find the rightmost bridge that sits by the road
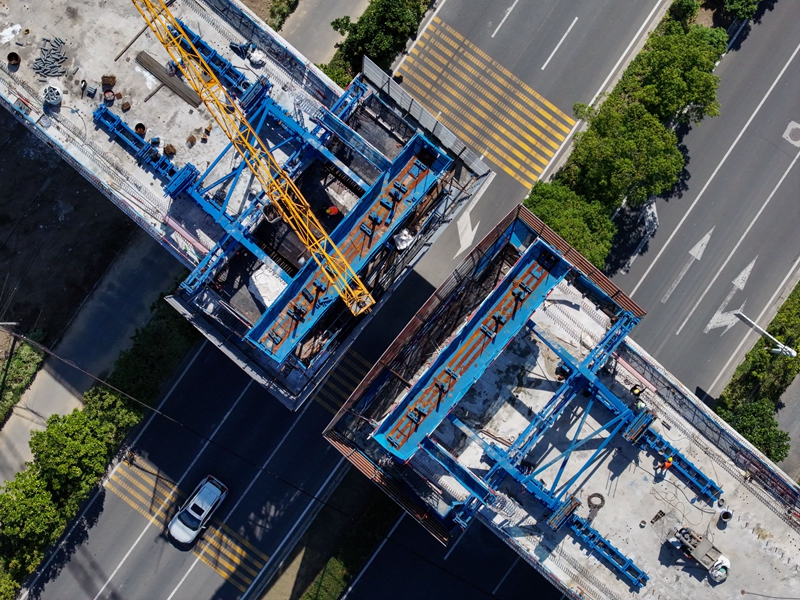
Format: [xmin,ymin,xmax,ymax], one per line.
[410,287,800,600]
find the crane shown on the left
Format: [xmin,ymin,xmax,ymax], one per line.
[127,0,379,320]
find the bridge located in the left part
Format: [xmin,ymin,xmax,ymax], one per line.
[0,0,357,278]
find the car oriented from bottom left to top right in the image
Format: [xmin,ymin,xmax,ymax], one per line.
[168,472,230,552]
